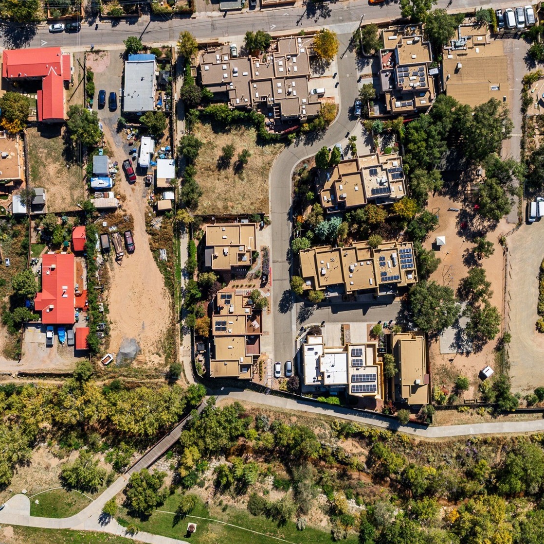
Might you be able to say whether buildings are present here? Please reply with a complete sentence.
Yes, I can see a building in this picture.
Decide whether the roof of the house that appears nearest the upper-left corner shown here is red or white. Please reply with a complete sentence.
The roof of the house that appears nearest the upper-left corner is red.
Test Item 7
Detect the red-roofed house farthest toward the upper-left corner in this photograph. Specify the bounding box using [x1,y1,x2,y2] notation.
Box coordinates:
[3,46,75,123]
